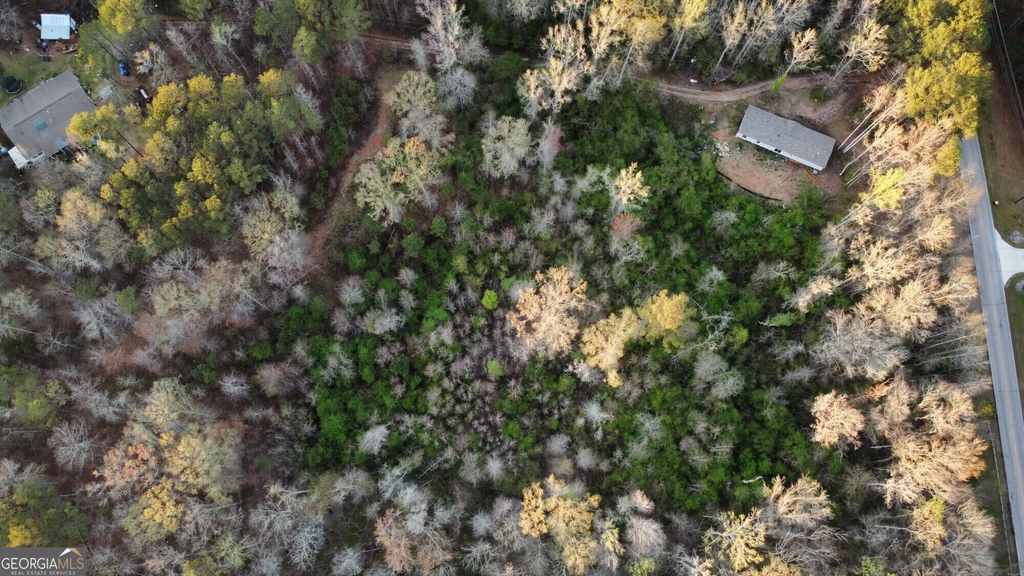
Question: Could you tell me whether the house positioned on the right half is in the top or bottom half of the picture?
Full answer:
You can find the house positioned on the right half in the top half.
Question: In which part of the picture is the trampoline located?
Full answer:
The trampoline sits in the top left section of the image.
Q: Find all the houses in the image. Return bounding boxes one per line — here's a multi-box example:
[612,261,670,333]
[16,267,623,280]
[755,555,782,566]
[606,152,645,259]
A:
[0,68,106,172]
[736,104,835,170]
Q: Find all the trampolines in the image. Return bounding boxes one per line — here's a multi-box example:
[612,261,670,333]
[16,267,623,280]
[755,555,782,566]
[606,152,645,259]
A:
[0,71,23,93]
